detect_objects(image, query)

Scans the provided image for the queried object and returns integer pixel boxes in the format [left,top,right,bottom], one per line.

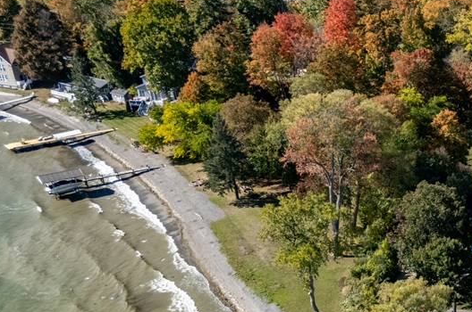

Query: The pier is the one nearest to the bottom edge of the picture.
[84,158,165,186]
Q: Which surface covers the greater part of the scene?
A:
trees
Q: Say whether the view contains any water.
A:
Yes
